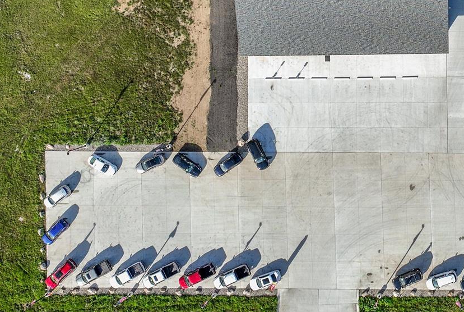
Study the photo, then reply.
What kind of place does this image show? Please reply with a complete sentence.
It's a parking lot.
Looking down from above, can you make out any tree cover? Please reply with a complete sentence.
No, there's no tree cover in this view.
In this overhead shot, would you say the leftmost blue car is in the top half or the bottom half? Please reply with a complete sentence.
Seen from above, the leftmost blue car lies in the bottom half of the view.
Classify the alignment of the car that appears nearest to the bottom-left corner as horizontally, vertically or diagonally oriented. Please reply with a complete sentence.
What the image shows is the car that appears nearest to the bottom-left corner lying diagonally.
